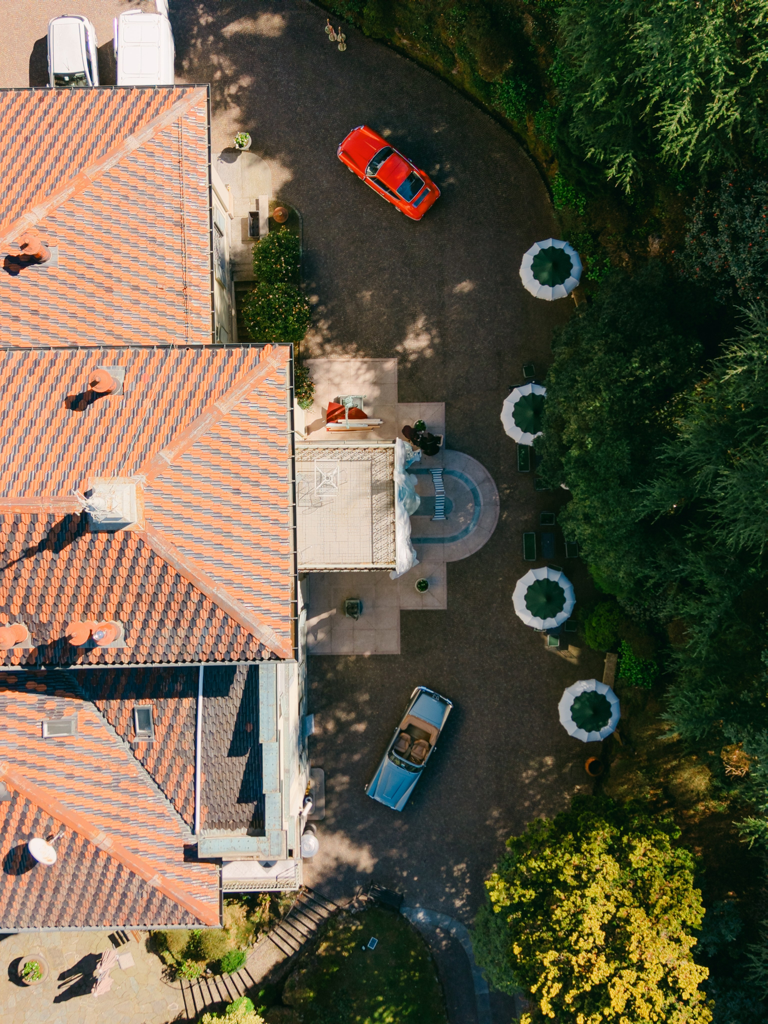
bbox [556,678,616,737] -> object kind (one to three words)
umbrella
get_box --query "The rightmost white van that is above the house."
[117,0,185,82]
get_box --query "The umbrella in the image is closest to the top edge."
[519,243,579,303]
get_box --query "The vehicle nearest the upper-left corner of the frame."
[50,21,104,83]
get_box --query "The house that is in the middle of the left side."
[0,79,399,934]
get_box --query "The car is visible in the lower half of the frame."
[368,691,454,815]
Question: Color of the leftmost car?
white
